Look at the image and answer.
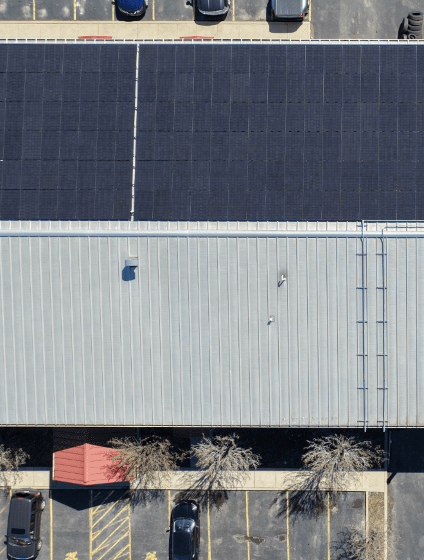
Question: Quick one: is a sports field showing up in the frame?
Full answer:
No, there appears to be no sports field in this shot.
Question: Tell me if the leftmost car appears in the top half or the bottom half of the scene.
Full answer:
You can find the leftmost car in the bottom half.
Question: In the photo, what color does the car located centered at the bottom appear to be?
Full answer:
From above, the car located centered at the bottom appears black.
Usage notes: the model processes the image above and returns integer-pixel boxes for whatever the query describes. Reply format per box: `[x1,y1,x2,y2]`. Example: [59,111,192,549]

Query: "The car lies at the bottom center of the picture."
[165,499,200,560]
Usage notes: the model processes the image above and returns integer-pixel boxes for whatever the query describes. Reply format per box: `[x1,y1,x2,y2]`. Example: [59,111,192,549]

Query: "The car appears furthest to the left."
[2,484,44,560]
